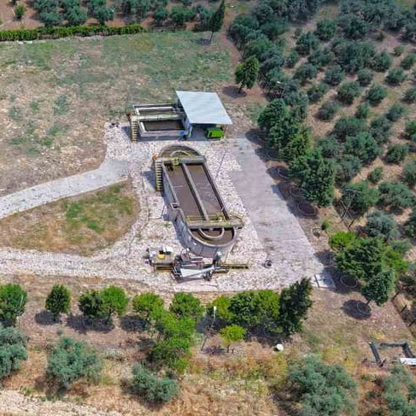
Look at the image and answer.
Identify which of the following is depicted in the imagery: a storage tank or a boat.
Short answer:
storage tank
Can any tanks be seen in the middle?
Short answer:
Yes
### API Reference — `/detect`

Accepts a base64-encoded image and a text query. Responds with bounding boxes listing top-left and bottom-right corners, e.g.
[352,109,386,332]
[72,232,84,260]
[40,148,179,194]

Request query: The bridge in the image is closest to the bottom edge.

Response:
[188,213,247,230]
